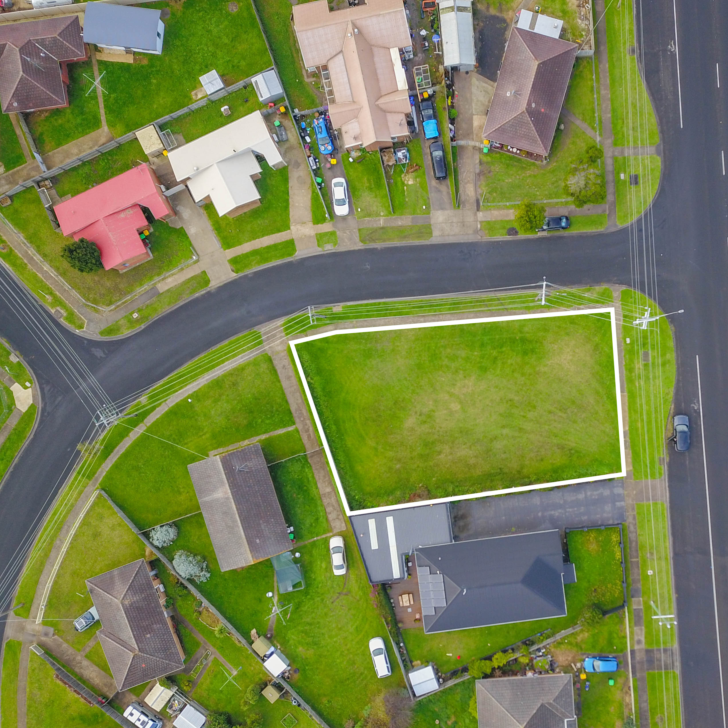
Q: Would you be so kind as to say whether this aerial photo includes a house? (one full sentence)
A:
Yes, there is a house in the image.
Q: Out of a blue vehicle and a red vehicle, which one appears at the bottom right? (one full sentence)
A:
Visible at the bottom right is a blue vehicle.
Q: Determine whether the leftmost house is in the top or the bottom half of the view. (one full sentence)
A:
You can find the leftmost house in the top half.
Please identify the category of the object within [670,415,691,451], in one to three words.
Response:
car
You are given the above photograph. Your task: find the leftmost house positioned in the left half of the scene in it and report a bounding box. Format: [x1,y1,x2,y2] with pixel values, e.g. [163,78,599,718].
[0,15,90,116]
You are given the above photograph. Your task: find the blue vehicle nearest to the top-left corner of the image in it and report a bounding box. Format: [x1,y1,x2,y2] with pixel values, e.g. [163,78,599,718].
[314,118,334,155]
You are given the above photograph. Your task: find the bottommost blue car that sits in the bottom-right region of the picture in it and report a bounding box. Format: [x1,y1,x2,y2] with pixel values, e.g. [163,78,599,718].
[584,655,618,673]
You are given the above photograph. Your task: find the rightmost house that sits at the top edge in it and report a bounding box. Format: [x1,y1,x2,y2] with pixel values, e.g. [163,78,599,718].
[481,9,579,157]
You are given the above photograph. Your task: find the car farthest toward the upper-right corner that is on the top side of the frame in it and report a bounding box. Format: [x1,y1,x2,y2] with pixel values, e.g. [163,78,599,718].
[538,215,571,232]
